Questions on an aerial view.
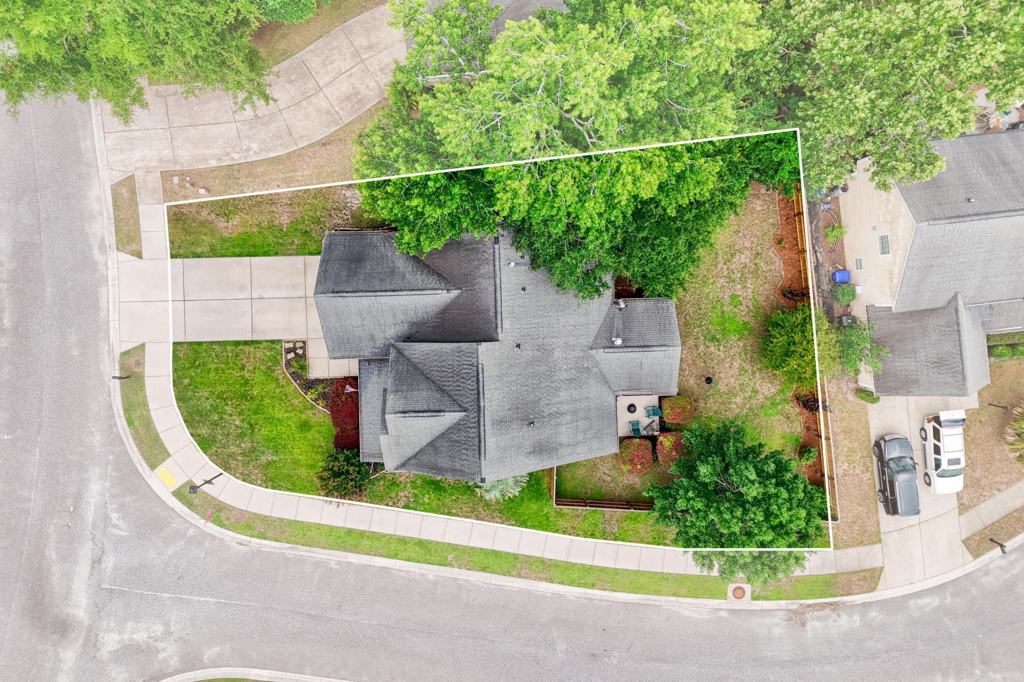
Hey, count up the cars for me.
2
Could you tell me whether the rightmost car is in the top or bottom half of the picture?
bottom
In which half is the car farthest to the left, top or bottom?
bottom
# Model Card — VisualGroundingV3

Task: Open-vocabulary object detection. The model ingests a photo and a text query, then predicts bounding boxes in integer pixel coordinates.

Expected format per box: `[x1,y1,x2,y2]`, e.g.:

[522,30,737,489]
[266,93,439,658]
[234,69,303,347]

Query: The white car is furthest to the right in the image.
[918,411,963,494]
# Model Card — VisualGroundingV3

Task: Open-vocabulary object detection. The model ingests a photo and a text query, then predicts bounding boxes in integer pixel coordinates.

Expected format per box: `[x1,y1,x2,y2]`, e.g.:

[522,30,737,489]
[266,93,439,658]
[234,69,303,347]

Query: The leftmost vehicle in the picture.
[874,432,925,519]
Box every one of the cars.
[874,432,925,519]
[918,411,963,494]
